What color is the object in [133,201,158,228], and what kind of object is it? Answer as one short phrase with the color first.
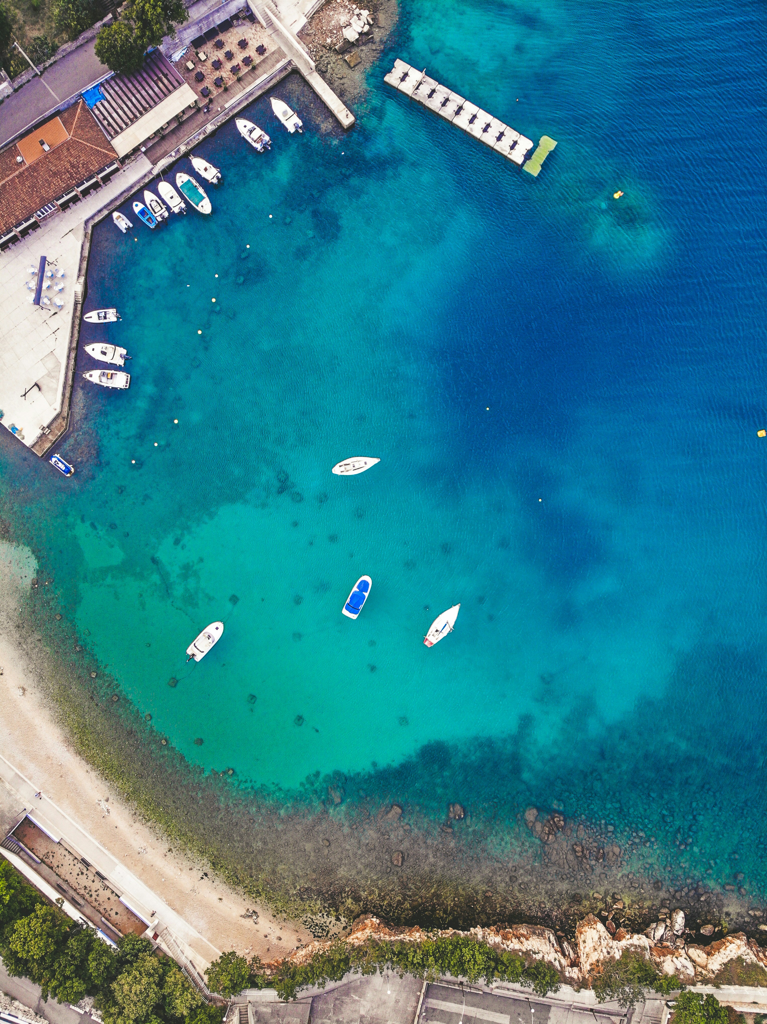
blue boat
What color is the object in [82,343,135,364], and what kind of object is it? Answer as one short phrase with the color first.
white boat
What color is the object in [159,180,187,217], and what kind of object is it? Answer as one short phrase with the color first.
white boat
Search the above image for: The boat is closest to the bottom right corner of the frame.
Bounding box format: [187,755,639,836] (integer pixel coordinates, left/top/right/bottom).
[424,604,460,646]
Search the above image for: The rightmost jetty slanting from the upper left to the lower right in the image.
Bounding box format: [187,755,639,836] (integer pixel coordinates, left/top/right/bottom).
[385,60,532,165]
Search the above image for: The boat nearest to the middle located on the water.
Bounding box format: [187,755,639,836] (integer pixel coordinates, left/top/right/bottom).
[332,457,379,477]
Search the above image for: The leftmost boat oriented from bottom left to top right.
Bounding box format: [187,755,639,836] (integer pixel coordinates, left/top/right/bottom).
[186,622,223,662]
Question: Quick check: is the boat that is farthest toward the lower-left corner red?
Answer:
No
